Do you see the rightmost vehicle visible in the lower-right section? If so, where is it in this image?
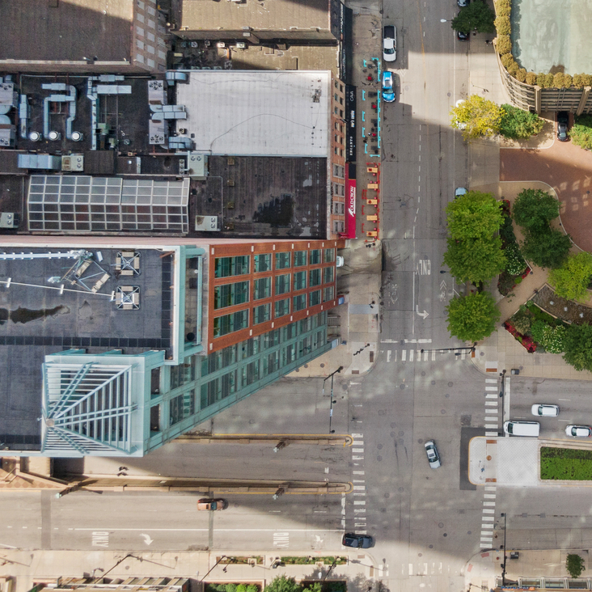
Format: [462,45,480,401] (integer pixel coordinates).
[567,424,592,437]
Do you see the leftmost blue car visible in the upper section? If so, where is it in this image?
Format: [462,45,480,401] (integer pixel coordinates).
[383,73,395,102]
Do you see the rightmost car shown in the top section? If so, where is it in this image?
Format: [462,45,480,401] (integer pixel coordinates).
[556,114,569,142]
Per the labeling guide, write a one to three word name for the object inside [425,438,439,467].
car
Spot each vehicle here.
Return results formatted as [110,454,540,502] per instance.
[531,403,559,417]
[384,25,397,63]
[334,255,355,266]
[199,496,228,510]
[567,424,592,437]
[344,532,375,549]
[383,73,395,102]
[458,0,467,9]
[556,114,569,142]
[503,420,540,435]
[458,24,469,42]
[425,438,439,467]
